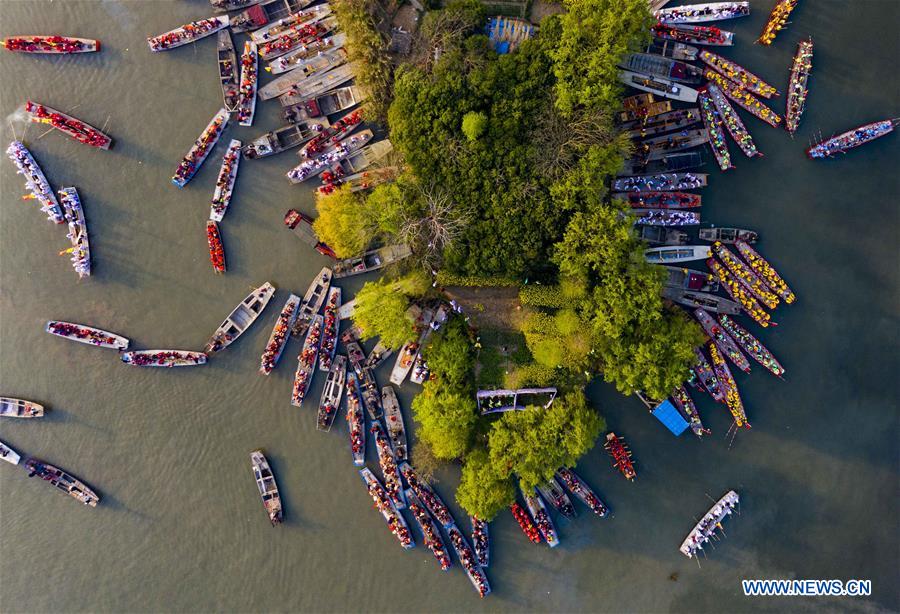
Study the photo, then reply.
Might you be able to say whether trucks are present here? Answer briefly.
No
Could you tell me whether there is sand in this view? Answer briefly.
No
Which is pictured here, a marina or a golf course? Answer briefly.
marina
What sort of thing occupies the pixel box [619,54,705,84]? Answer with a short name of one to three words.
boat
